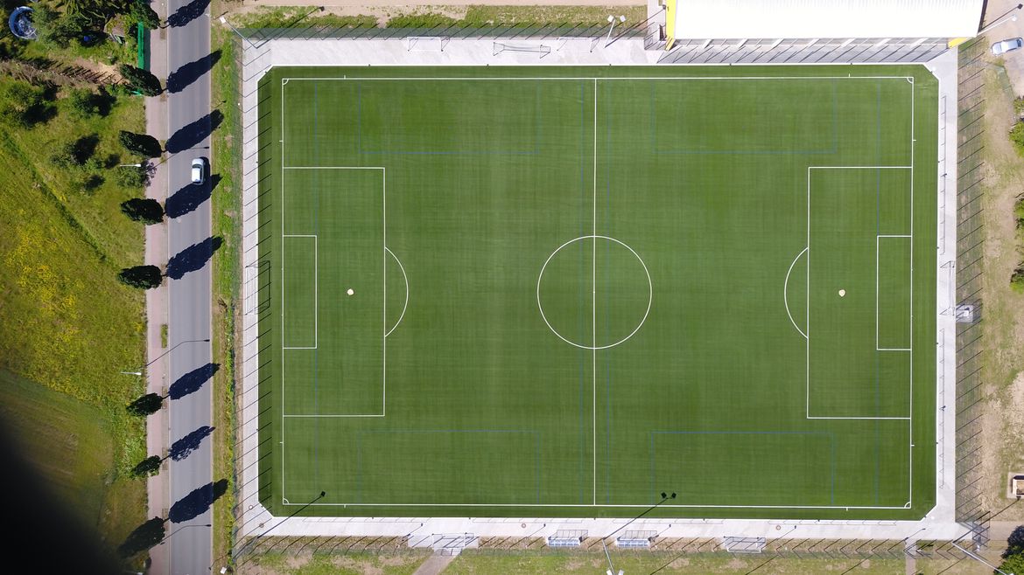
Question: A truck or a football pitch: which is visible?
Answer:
football pitch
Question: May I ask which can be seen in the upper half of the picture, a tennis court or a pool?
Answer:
pool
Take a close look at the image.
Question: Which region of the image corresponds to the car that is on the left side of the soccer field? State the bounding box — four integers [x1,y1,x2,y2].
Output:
[190,158,204,185]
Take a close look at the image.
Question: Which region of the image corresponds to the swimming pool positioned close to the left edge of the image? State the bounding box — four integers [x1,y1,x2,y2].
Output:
[10,9,39,39]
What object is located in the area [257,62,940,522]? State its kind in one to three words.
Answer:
soccer field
